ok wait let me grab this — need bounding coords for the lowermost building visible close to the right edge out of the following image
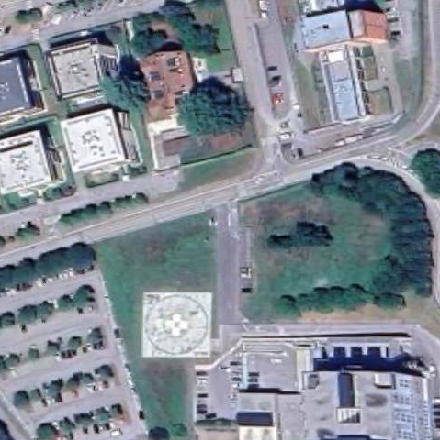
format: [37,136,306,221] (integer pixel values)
[302,372,421,440]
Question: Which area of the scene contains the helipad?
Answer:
bottom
